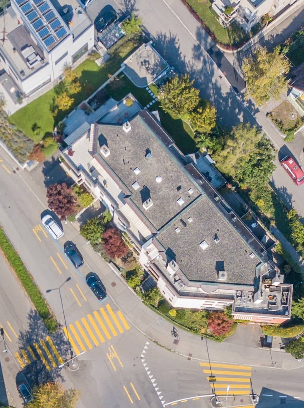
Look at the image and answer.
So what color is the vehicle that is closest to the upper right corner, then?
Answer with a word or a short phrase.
red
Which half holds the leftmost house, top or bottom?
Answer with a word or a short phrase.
top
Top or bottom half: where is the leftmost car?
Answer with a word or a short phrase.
bottom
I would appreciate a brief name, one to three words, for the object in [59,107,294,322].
house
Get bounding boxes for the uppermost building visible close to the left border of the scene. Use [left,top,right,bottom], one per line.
[0,0,92,96]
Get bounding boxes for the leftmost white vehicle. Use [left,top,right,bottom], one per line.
[40,210,65,243]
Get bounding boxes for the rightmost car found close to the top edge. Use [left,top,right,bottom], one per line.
[92,6,119,31]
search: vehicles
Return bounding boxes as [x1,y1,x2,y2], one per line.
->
[92,6,119,31]
[84,270,109,303]
[40,210,65,243]
[277,155,304,187]
[16,379,37,406]
[62,239,84,269]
